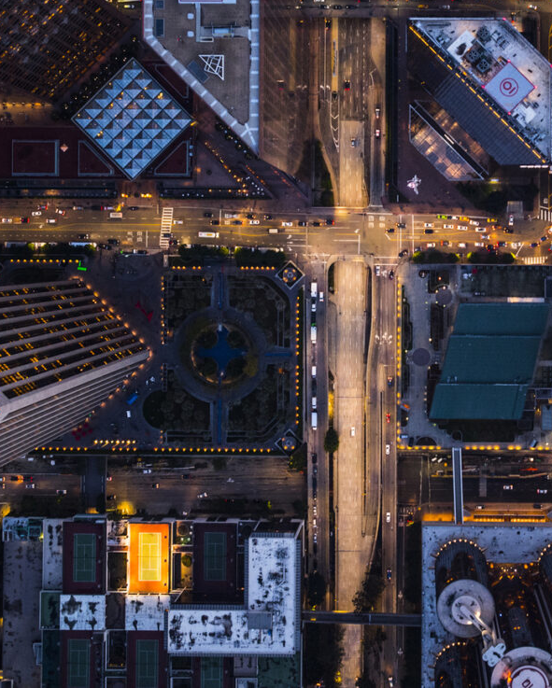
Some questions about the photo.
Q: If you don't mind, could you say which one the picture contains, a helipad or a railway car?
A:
helipad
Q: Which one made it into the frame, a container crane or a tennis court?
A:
tennis court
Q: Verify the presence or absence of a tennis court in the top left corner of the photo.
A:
No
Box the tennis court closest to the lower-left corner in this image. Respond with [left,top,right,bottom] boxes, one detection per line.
[66,639,91,687]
